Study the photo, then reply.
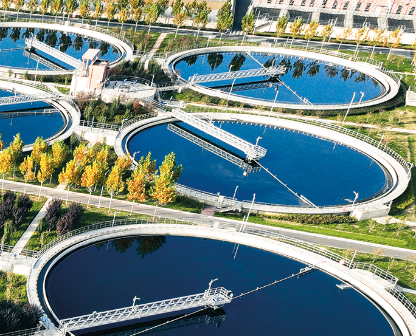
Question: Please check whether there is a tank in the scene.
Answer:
Yes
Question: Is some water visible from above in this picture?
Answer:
Yes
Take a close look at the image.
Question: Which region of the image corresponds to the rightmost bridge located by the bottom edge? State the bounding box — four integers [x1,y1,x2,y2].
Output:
[46,285,239,336]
